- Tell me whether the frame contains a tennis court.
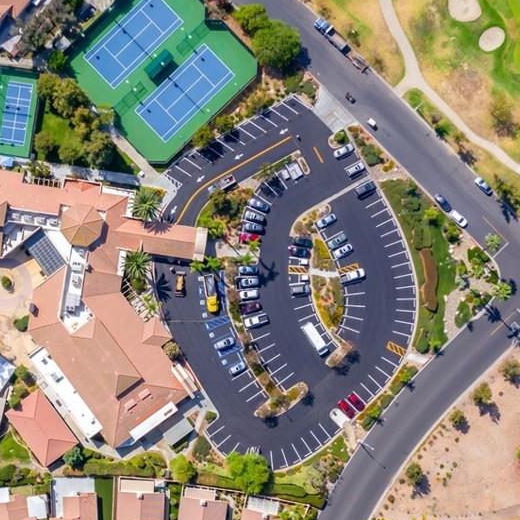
Yes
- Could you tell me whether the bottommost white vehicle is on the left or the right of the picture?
right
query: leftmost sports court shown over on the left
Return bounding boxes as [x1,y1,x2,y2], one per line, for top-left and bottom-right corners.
[0,66,38,155]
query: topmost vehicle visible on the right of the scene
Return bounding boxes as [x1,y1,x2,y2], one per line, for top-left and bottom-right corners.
[315,18,348,46]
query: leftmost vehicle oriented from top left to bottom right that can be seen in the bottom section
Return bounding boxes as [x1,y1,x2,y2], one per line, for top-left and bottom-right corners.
[300,321,328,353]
